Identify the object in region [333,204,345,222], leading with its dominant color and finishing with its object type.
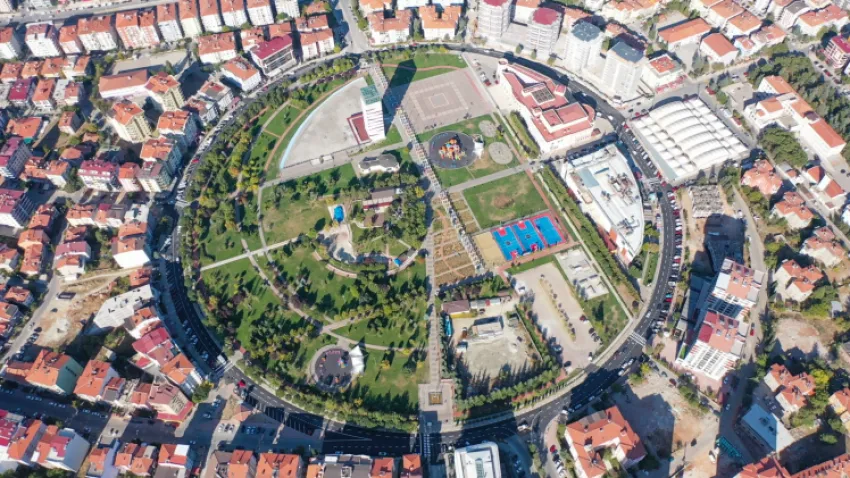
blue swimming pool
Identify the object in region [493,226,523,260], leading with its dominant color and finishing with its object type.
blue basketball court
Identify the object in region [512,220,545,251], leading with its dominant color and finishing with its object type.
blue basketball court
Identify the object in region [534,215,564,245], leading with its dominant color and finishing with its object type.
blue sports court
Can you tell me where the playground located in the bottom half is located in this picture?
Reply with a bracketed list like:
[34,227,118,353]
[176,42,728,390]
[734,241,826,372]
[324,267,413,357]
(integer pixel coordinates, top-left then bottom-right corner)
[310,344,356,389]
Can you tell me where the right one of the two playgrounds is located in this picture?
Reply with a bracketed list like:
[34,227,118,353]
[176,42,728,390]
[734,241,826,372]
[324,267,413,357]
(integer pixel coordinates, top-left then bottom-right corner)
[426,130,477,169]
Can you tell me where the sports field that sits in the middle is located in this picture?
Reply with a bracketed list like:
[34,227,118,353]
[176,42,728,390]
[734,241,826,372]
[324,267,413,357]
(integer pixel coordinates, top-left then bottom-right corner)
[463,171,548,227]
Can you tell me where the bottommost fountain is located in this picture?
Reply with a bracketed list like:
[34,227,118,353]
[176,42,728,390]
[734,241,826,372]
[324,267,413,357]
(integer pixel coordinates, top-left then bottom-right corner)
[427,388,443,406]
